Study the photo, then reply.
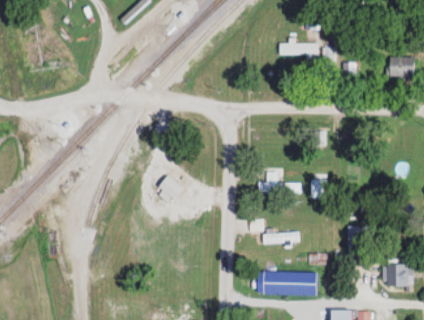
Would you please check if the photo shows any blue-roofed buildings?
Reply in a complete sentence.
Yes, a blue-roofed building appears in the view.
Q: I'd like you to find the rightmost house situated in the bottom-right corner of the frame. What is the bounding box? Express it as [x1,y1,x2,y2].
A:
[380,258,414,289]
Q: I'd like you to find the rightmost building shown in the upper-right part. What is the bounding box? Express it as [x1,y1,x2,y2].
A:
[388,58,415,78]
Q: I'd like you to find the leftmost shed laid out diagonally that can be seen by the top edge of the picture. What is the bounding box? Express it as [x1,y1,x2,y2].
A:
[119,0,152,28]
